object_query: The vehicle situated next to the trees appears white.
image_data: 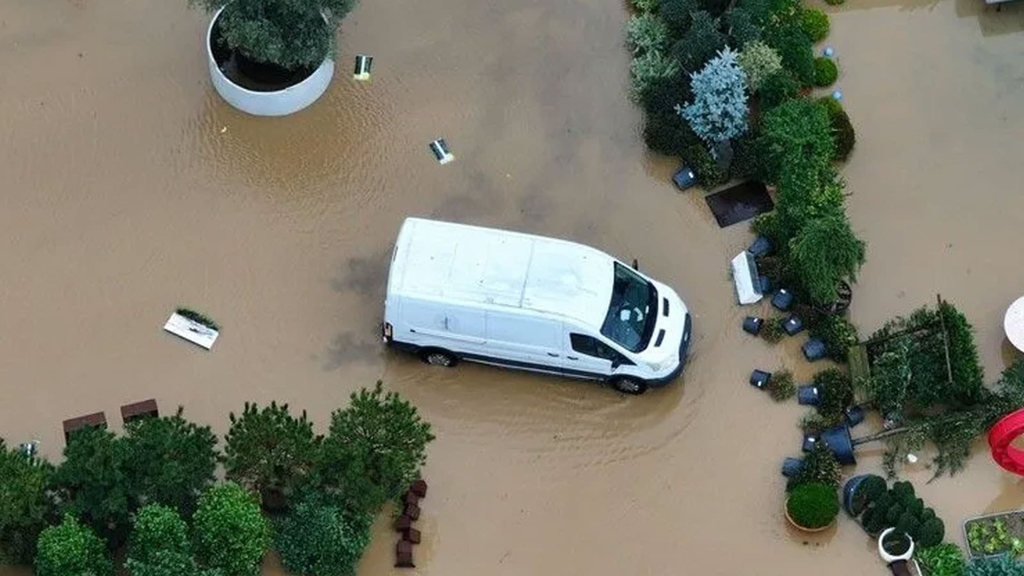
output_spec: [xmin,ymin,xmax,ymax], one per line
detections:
[379,222,690,392]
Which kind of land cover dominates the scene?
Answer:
water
